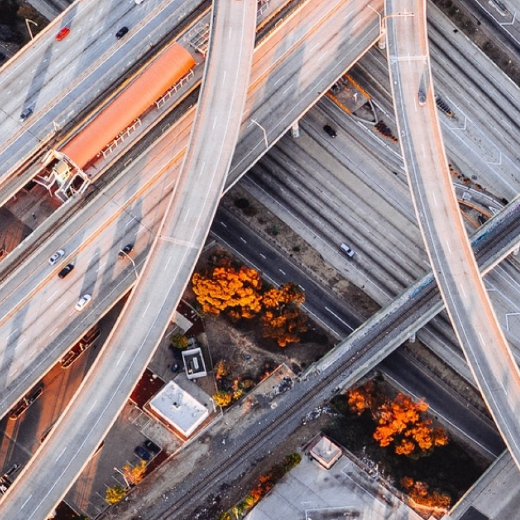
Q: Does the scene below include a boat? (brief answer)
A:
No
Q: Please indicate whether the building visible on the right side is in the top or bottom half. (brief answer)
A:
bottom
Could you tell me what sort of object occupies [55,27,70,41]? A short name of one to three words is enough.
vehicle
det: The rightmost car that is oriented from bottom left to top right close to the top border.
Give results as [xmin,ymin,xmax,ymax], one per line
[114,25,128,39]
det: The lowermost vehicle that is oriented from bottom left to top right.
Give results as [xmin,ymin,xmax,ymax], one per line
[74,295,91,311]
